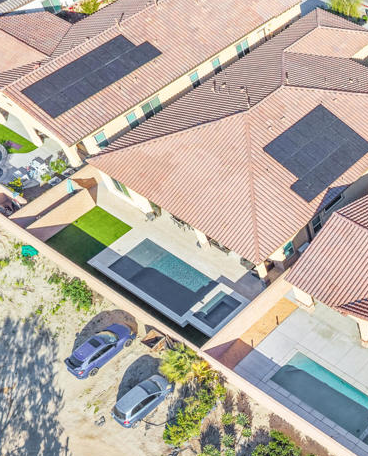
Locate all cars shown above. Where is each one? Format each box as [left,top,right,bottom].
[58,323,140,385]
[103,369,181,433]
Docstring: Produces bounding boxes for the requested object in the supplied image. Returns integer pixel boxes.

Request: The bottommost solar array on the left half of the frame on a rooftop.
[15,29,164,112]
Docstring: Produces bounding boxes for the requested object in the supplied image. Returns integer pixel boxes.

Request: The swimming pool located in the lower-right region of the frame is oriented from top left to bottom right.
[263,346,368,442]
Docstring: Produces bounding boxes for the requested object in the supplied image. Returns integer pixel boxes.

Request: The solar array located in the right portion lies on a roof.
[259,99,368,207]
